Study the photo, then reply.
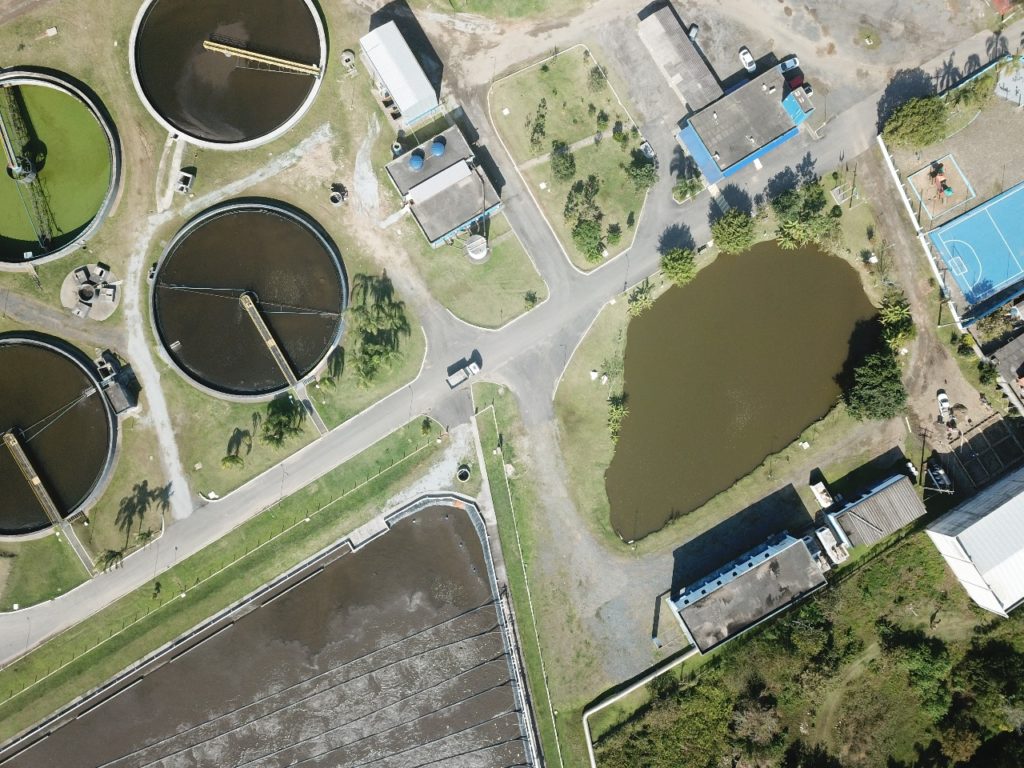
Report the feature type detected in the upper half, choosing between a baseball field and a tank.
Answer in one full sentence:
It is a tank that can be seen in the upper half.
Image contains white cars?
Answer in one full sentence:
Yes, I can see a white car in this picture.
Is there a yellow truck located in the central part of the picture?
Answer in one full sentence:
No, I can find no yellow truck in the central part of the picture.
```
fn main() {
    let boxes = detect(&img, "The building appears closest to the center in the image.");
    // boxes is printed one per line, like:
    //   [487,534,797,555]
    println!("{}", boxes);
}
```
[386,125,501,248]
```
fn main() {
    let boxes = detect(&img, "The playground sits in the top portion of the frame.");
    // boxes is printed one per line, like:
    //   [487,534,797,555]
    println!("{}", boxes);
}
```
[907,154,977,219]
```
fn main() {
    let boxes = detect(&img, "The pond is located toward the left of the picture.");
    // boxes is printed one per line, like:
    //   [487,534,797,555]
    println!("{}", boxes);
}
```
[0,489,542,768]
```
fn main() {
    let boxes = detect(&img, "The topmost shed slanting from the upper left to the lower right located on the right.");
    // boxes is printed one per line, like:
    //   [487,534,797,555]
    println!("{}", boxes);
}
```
[636,6,724,118]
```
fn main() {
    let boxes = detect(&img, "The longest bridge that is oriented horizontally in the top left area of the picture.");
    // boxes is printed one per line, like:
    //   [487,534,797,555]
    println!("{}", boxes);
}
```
[203,40,321,75]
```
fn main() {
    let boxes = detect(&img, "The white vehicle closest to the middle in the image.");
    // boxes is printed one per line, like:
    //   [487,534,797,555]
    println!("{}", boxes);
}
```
[448,360,484,388]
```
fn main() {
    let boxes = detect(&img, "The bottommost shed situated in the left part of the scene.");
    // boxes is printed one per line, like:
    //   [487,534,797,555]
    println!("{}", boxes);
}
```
[106,382,138,419]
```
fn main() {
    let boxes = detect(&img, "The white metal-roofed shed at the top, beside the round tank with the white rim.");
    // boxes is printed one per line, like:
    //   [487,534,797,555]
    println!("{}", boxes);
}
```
[359,21,439,121]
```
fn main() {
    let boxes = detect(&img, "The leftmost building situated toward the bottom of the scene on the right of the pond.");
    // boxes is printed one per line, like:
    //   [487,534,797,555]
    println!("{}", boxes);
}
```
[669,531,827,653]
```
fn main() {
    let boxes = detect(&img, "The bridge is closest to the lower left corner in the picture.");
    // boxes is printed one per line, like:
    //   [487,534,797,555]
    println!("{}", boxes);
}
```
[0,432,65,527]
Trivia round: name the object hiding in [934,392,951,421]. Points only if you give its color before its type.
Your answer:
white vehicle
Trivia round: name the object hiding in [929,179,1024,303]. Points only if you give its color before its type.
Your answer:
blue sports court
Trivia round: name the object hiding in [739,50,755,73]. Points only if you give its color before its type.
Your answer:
white car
